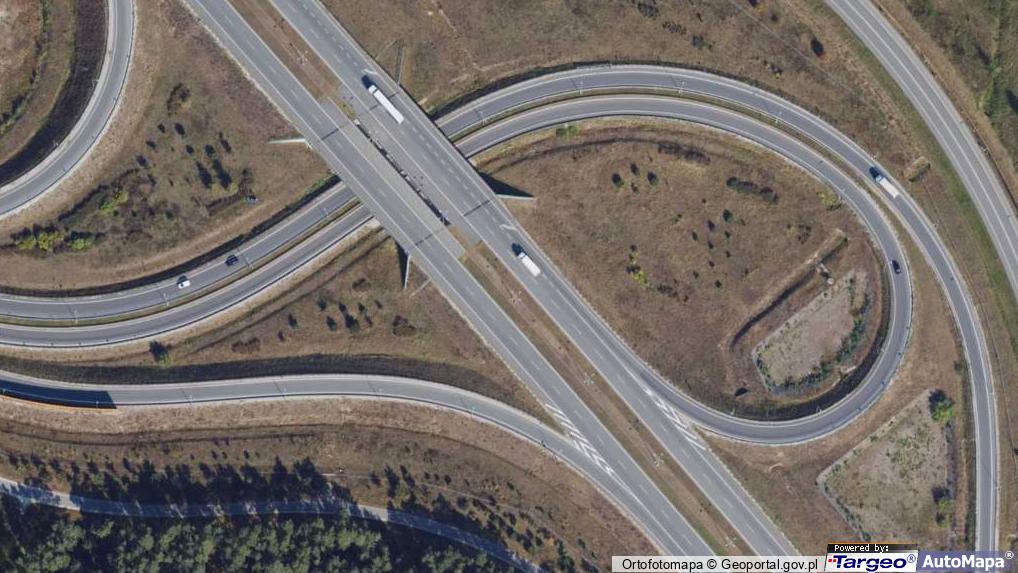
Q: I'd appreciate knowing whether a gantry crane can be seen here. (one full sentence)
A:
No, I find no gantry crane anywhere in the image.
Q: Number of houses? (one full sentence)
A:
There are no houses in this view.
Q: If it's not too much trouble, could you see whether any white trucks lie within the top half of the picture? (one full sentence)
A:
Yes, I can see a white truck within the top half of the picture.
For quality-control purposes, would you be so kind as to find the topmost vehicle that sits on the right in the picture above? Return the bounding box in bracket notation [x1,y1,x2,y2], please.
[876,174,900,198]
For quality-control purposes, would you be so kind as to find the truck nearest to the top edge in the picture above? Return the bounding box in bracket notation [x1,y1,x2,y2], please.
[369,84,405,123]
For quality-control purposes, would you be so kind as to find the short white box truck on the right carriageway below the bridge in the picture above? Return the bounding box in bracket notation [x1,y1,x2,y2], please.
[518,252,541,277]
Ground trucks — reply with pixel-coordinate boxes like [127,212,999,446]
[369,84,405,123]
[876,174,900,198]
[518,252,541,277]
